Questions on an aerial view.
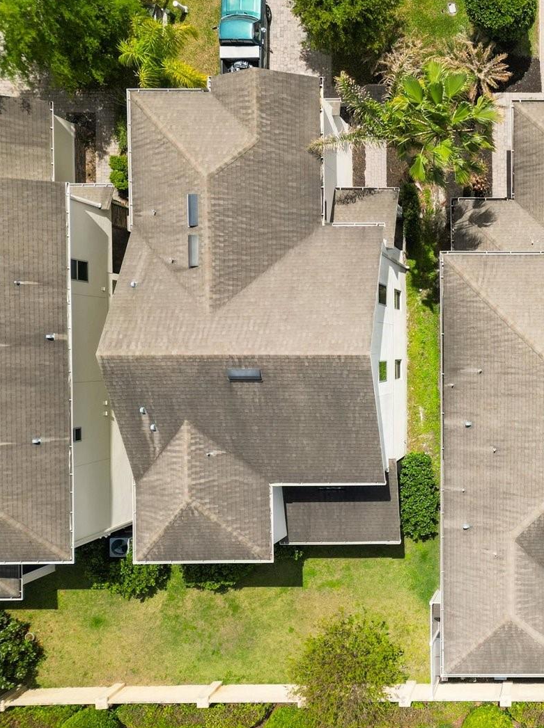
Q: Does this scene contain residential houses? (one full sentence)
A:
Yes, this view includes a residential house.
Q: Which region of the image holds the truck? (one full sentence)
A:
The truck sits in the top section of the image.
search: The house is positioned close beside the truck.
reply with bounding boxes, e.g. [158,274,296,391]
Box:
[97,70,406,565]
